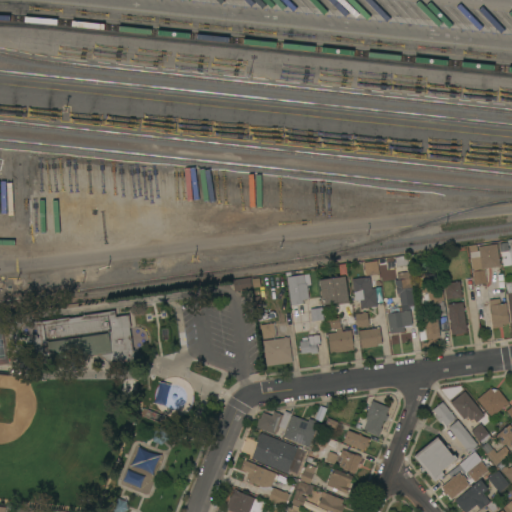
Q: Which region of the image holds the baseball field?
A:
bottom left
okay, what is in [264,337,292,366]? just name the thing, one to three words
house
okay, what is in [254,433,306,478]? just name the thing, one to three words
building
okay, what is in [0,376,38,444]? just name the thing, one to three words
baseball field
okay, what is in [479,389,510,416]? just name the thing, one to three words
house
